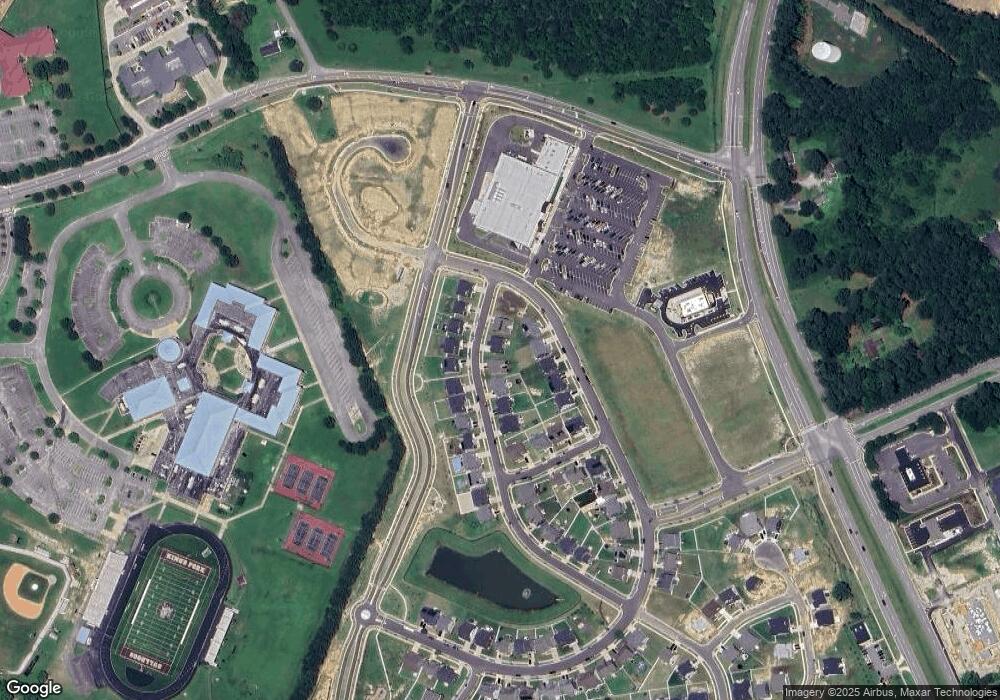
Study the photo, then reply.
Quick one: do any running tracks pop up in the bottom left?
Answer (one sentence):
Yes, a running track is visible in the bottom left.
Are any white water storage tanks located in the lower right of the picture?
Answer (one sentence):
No, there is no white water storage tank in the lower right of the picture.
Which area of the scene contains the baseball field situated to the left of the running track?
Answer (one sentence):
The baseball field situated to the left of the running track sits in the bottom left section of the image.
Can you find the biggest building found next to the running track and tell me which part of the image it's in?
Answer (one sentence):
The biggest building found next to the running track appears toward the left of the photo.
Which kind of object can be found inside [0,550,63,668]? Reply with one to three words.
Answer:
baseball field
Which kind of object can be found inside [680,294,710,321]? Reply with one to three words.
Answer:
building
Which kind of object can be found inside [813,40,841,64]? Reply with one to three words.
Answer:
water tank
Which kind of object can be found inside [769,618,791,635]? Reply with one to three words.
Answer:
house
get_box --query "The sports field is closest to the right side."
[111,533,219,689]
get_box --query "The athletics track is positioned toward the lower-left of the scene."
[99,513,229,699]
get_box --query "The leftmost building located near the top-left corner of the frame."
[0,27,58,97]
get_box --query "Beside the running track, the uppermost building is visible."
[101,283,305,499]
